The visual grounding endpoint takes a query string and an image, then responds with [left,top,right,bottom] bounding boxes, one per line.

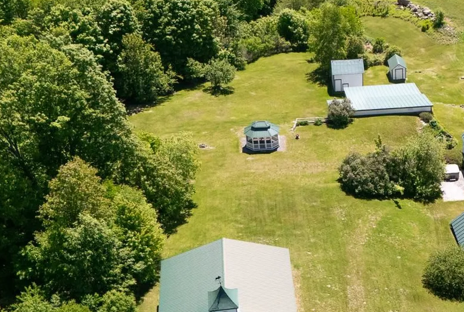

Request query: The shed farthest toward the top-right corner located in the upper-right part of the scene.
[388,55,407,79]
